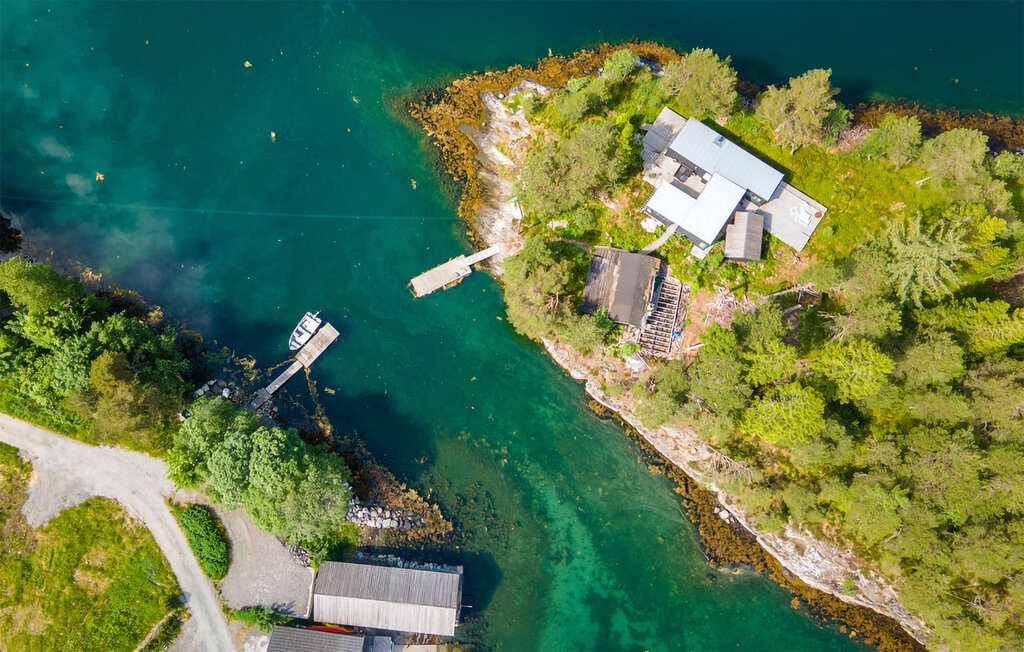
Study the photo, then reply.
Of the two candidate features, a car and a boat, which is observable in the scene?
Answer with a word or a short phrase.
boat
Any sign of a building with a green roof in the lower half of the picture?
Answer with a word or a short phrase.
No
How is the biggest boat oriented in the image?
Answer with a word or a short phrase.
on a diagonal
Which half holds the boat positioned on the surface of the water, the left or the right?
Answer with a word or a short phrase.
left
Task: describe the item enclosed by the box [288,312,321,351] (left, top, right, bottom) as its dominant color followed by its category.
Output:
white boat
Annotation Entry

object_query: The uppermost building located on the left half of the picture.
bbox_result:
[314,555,473,635]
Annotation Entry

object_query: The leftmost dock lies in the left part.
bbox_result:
[266,322,340,394]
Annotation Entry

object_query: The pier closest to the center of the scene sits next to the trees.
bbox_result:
[411,244,501,297]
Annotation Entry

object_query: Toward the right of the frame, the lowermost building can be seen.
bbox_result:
[583,247,660,327]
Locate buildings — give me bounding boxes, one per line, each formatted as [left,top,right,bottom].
[267,622,364,652]
[583,247,660,327]
[632,116,786,247]
[314,555,473,635]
